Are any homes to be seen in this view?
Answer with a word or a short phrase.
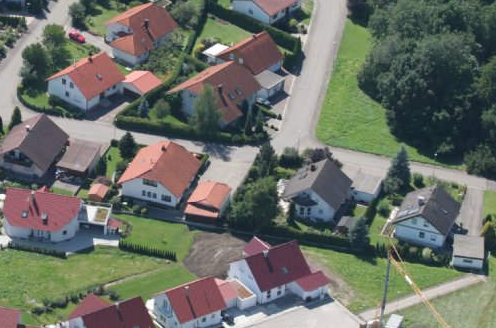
Yes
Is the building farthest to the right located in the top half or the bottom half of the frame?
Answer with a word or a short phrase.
bottom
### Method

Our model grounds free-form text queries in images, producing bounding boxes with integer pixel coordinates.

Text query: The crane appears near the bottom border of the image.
[374,235,453,328]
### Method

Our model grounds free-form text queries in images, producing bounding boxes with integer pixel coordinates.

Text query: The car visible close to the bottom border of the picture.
[221,310,237,326]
